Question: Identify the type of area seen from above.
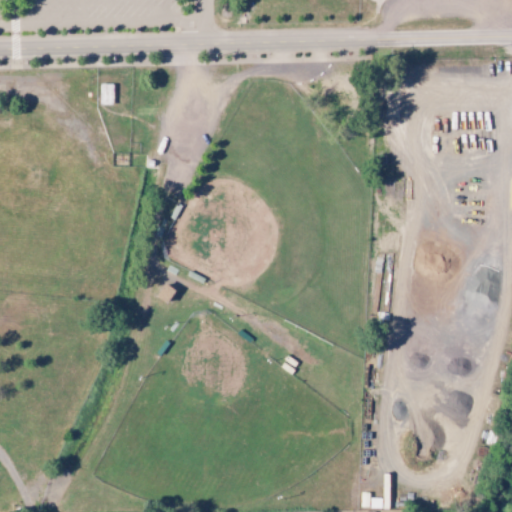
sports ground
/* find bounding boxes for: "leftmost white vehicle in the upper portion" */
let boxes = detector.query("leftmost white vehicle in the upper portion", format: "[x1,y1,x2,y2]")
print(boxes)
[156,137,170,155]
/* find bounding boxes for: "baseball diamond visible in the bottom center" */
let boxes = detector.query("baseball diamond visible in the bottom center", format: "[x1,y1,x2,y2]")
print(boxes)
[97,310,352,507]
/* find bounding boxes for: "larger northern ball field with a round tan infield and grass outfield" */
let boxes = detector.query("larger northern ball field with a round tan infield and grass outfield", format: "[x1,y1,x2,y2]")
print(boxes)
[168,78,371,357]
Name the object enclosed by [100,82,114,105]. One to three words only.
shed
